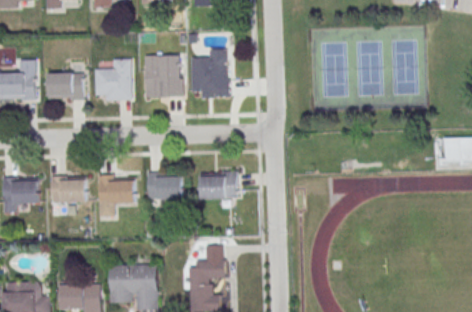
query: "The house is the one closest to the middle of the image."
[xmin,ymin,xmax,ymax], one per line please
[197,172,240,200]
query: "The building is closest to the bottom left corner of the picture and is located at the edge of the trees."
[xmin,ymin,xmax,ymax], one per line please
[2,282,52,312]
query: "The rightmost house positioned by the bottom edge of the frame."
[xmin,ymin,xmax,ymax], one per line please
[190,244,227,312]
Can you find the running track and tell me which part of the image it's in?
bottom right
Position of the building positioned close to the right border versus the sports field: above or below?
above it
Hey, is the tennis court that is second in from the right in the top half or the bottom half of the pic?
top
